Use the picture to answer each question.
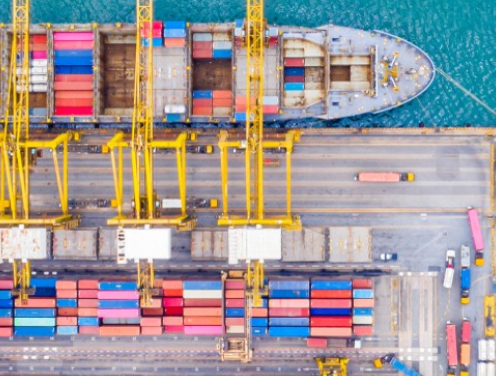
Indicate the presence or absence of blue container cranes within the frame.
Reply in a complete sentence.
No, I can see no blue container crane in this picture.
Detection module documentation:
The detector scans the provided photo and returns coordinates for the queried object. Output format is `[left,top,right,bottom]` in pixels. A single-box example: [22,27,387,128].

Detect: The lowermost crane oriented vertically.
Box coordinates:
[215,264,260,362]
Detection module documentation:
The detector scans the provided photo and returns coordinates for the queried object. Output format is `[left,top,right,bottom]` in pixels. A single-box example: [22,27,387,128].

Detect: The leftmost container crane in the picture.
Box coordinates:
[0,0,83,303]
